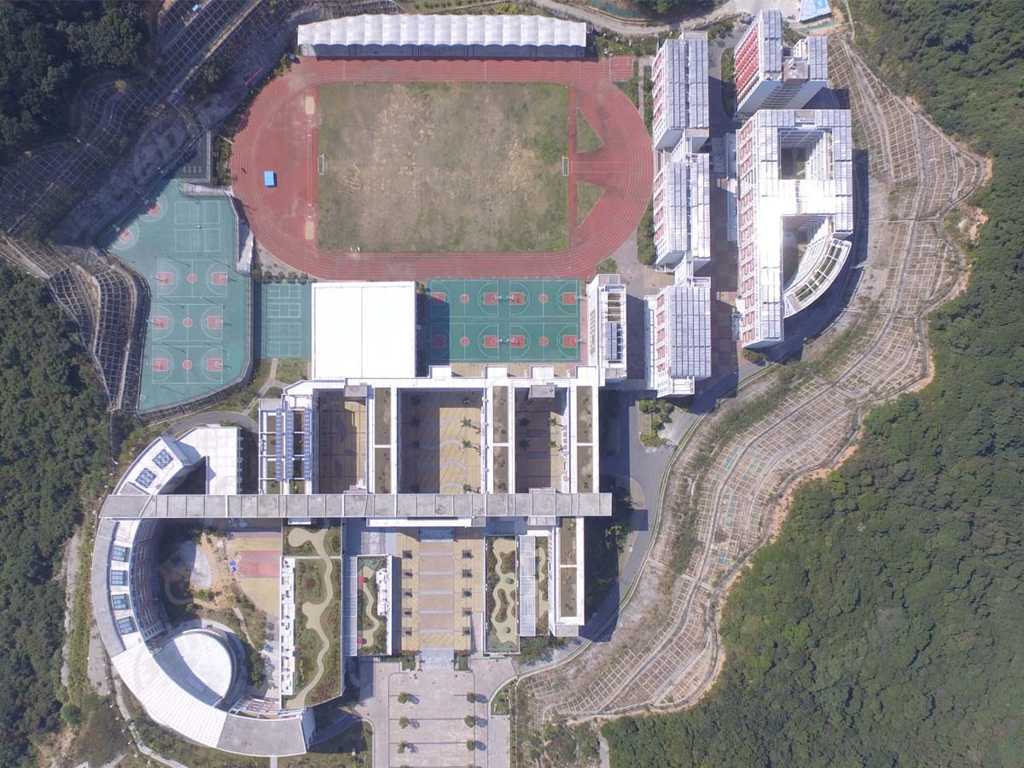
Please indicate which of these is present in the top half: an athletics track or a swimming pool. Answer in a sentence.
You can see an athletics track in the top half.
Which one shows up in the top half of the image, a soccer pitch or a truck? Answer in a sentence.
The one visible in the top half of the image is a soccer pitch.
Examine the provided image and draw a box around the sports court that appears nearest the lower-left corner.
[235,532,282,618]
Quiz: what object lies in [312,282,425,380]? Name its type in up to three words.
building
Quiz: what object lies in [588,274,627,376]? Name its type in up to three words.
building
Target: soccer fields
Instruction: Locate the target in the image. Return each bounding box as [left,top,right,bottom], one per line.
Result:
[317,82,569,253]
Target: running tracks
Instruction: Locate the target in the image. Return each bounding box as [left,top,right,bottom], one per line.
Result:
[230,56,650,280]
